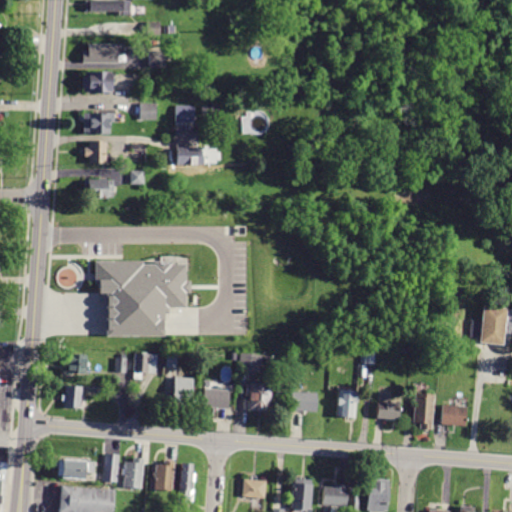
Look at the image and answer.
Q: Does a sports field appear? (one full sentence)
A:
No, I can see no sports field in this picture.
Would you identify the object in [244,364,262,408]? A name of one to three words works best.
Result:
house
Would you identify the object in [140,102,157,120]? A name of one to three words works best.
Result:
building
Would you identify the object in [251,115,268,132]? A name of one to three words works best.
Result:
swimming pool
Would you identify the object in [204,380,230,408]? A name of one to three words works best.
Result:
house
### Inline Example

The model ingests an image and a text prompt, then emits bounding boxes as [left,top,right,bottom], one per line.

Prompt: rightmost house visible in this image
[482,308,510,347]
